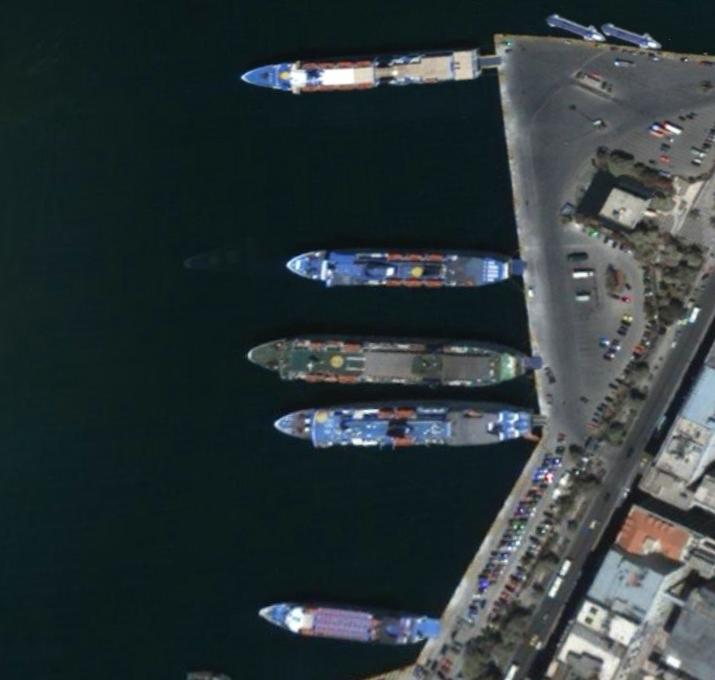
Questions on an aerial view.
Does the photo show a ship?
Yes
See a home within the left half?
No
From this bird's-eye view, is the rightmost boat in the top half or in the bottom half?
top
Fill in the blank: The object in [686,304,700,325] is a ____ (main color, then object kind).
white vehicle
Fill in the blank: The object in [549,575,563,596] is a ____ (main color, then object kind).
white vehicle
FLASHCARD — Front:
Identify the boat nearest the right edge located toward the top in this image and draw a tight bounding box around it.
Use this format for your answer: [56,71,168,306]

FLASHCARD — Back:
[600,23,661,47]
